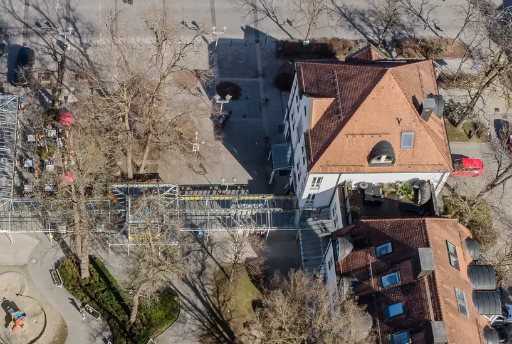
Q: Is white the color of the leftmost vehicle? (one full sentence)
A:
No, the color of the leftmost vehicle is black.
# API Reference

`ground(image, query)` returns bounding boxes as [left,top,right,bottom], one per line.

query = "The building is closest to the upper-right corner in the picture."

[288,25,454,220]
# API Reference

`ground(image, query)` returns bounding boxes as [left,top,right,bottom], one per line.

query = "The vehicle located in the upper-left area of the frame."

[14,49,34,94]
